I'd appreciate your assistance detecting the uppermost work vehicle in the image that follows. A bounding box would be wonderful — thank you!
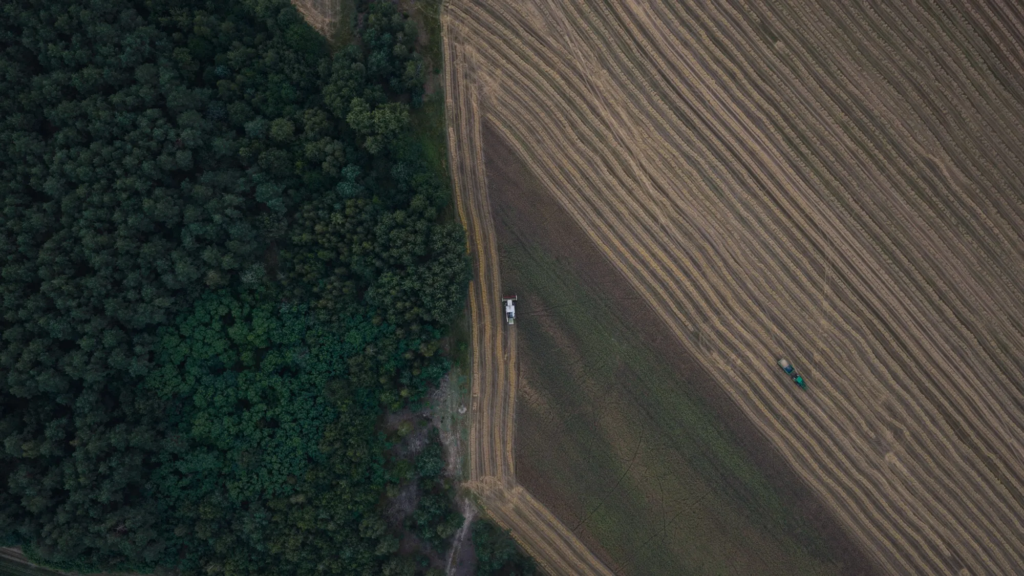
[502,295,518,326]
